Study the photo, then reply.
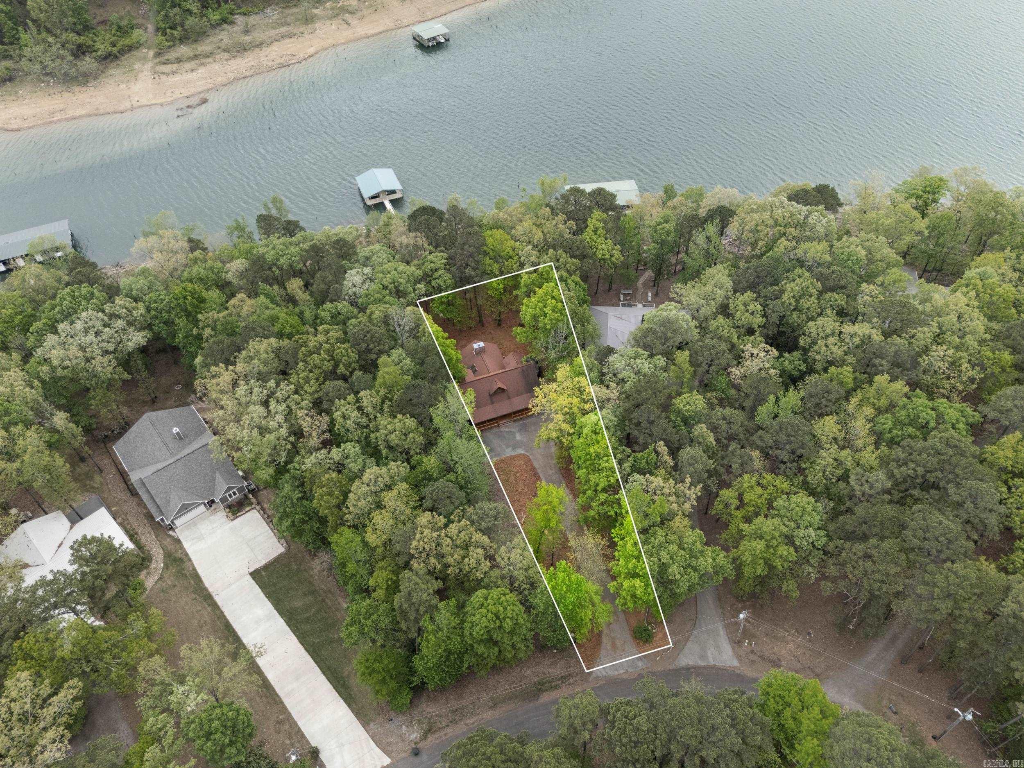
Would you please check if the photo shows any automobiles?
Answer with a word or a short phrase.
No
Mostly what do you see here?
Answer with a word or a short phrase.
trees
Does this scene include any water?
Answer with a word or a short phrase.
Yes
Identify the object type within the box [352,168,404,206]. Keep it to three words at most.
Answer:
pier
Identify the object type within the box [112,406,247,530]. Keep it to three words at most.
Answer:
house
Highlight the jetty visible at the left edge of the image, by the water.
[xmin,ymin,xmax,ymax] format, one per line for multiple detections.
[0,219,75,268]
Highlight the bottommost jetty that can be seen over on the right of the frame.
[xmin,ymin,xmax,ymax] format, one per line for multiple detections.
[585,179,646,214]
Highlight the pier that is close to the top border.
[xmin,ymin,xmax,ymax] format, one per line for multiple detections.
[409,22,451,48]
